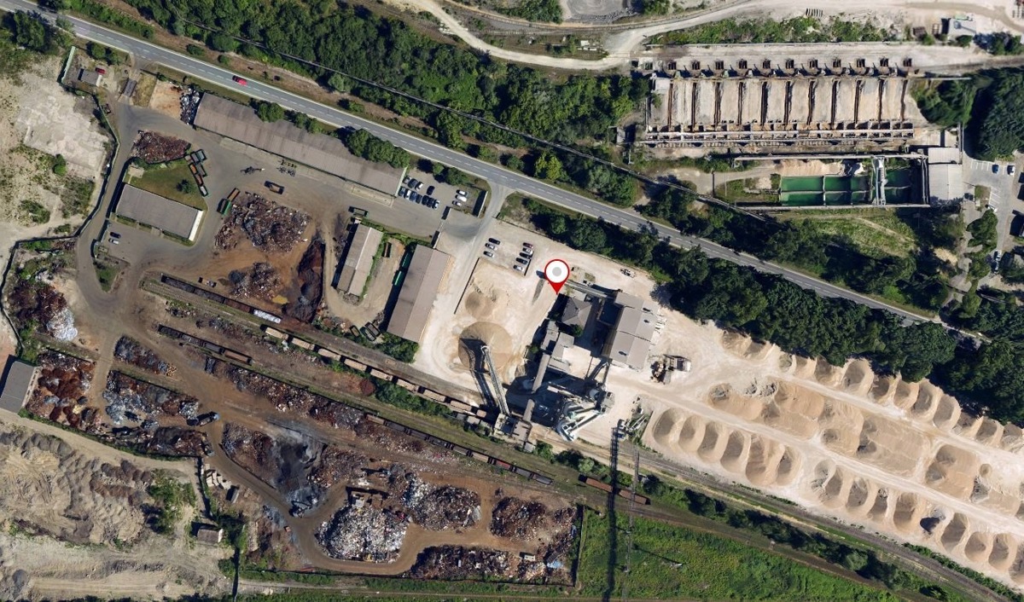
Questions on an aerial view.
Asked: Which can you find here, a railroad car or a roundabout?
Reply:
railroad car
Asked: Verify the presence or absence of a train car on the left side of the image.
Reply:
Yes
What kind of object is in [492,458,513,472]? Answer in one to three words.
rail car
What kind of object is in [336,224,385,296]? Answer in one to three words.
shed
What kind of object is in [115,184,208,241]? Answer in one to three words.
building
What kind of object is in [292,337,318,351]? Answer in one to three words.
rail car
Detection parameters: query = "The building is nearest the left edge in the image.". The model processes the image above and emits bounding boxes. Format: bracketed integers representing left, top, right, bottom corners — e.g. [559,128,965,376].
[0,359,41,414]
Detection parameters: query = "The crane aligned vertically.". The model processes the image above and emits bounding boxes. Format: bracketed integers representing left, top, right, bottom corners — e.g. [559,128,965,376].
[872,157,888,206]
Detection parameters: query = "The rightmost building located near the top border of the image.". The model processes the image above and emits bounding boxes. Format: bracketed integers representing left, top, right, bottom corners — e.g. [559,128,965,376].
[943,13,976,36]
